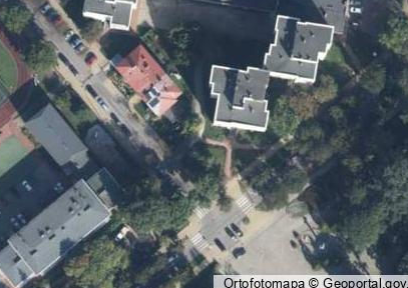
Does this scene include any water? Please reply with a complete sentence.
No, water can't be seen anywhere here.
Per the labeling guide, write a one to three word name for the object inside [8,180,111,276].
building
